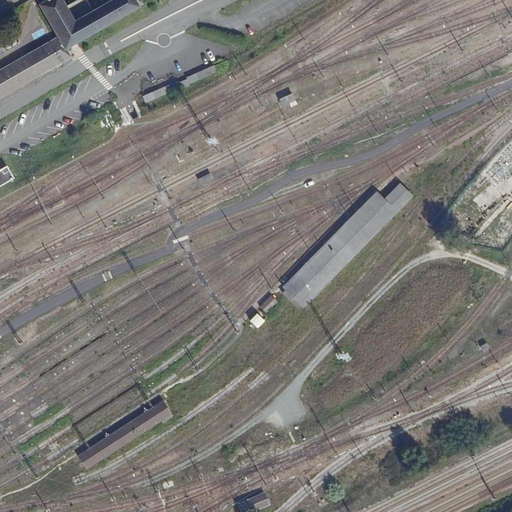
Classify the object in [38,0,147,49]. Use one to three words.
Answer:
building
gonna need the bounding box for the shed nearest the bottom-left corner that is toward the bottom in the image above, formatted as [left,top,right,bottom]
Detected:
[79,400,174,470]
